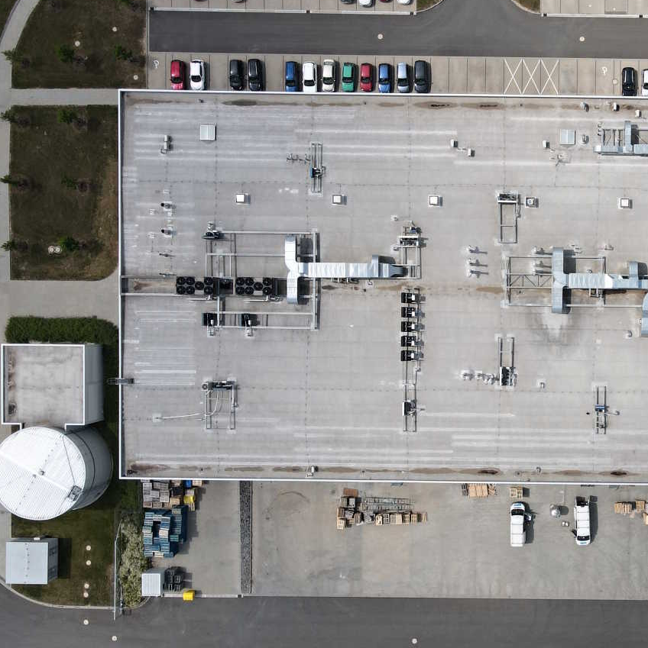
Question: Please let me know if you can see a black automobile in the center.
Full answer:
No, there's no black automobile to be seen in the center.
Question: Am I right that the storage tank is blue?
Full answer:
No, from above the storage tank looks white.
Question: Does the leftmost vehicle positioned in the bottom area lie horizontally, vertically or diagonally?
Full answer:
In this picture, the leftmost vehicle positioned in the bottom area is oriented vertically.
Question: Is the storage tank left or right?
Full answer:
It is on the left.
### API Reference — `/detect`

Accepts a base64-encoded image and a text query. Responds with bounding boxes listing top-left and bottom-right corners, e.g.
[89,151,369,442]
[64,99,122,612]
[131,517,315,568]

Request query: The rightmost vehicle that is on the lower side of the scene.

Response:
[572,496,591,544]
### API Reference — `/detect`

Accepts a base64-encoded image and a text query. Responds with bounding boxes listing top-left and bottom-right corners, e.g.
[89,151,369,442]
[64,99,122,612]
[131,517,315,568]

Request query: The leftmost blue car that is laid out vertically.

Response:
[284,61,300,93]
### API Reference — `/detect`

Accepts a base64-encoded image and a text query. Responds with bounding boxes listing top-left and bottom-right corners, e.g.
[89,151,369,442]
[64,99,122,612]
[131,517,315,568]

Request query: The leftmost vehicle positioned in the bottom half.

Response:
[510,501,531,547]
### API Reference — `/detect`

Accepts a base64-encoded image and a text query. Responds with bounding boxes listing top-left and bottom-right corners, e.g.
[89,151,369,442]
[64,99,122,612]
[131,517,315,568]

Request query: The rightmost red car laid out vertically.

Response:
[359,63,374,93]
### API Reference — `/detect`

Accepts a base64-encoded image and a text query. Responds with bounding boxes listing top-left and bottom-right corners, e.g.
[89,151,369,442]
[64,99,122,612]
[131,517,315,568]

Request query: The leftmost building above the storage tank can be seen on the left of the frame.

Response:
[1,345,105,430]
